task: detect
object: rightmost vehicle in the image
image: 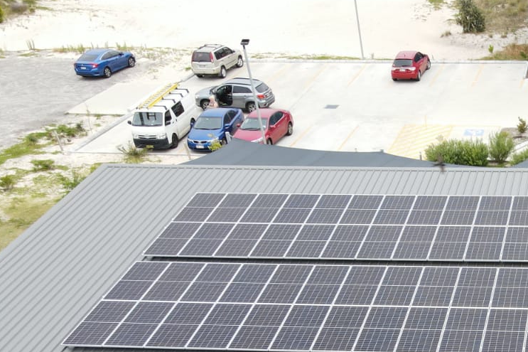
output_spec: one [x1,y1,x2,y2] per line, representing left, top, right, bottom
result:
[387,48,431,81]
